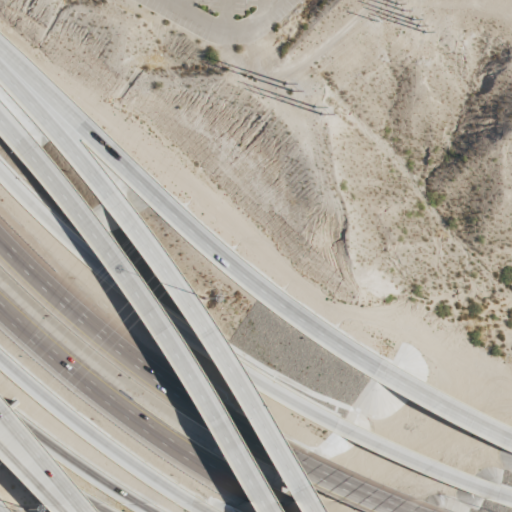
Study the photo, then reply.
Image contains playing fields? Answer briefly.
No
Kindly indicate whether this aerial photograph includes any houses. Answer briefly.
No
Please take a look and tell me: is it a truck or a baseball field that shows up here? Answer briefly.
truck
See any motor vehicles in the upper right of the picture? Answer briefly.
No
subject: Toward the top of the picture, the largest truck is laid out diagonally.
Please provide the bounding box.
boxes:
[90,130,124,163]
